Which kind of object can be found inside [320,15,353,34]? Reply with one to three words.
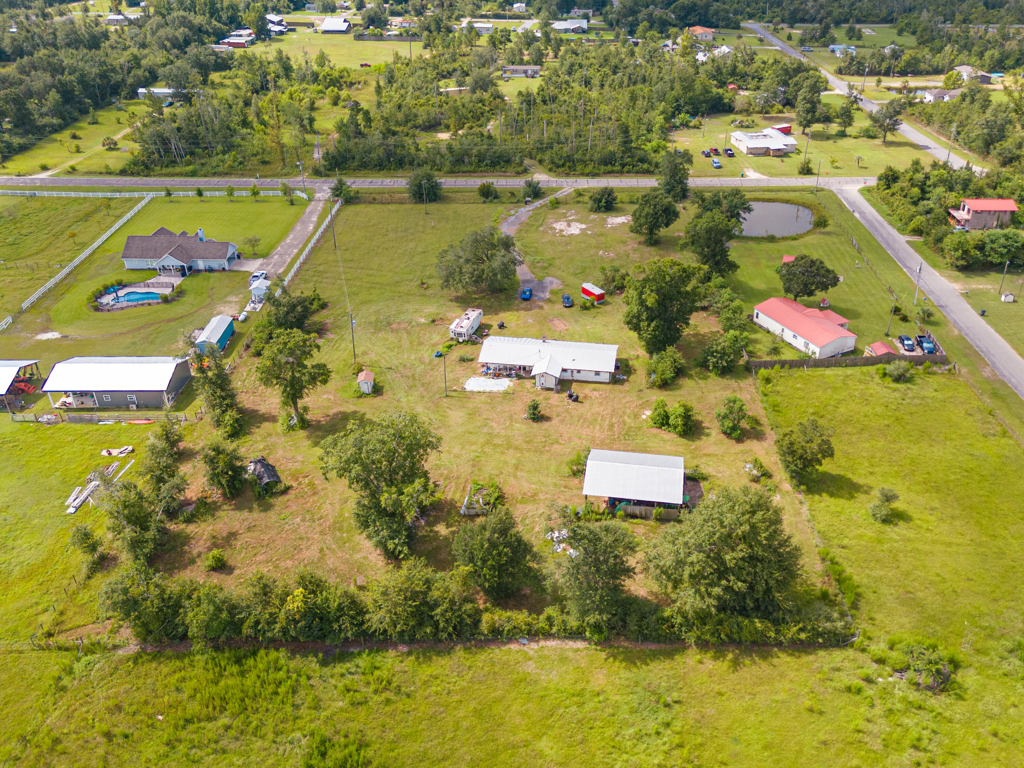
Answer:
barn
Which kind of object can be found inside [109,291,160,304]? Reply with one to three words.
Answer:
swimming pool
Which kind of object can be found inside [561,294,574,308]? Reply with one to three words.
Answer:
vehicle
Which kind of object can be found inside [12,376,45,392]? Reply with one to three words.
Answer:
work vehicle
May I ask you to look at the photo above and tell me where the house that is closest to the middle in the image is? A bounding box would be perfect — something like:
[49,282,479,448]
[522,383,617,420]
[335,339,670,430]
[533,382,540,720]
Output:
[478,336,615,386]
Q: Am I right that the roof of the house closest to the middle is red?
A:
No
